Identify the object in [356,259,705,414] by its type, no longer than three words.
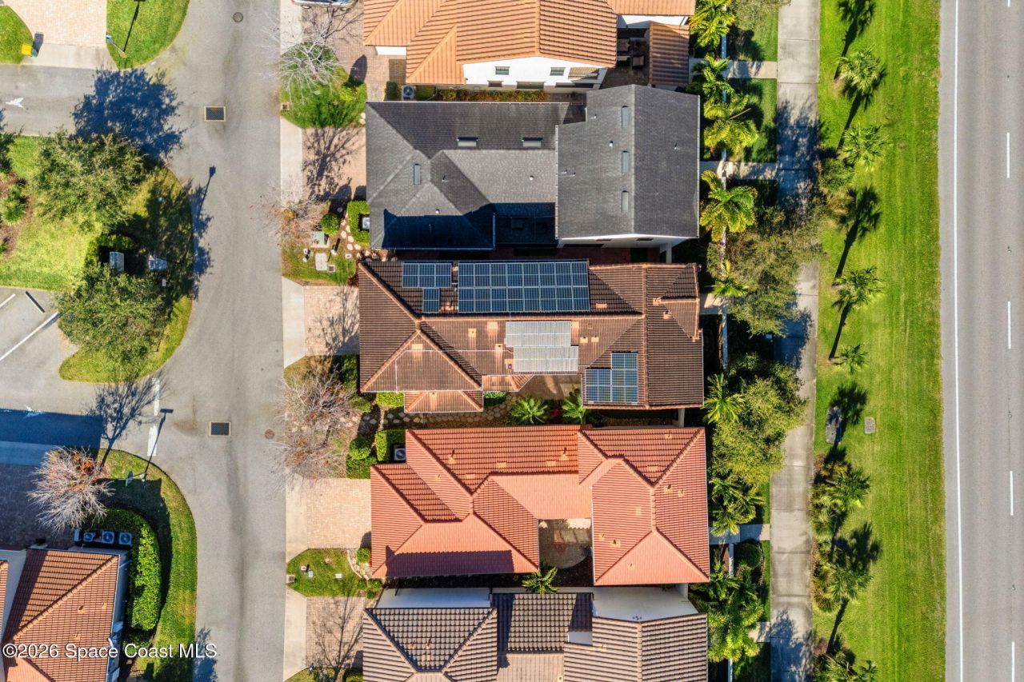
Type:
house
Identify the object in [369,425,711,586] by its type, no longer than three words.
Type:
house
